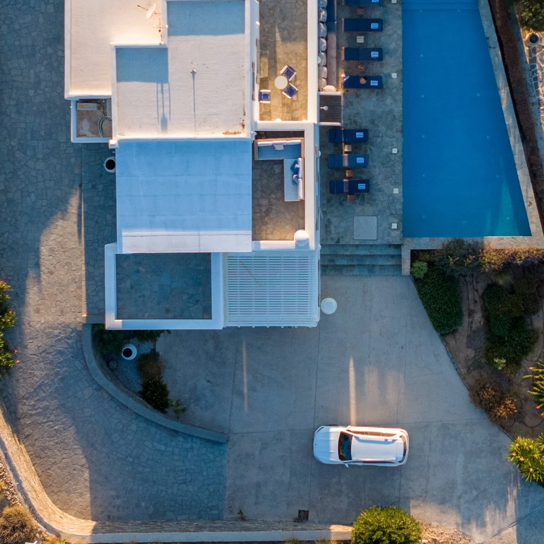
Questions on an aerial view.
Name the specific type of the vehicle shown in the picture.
car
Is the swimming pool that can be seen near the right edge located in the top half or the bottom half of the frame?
top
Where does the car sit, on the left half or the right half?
right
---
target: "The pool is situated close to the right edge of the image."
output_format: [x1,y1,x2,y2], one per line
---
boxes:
[402,0,544,275]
